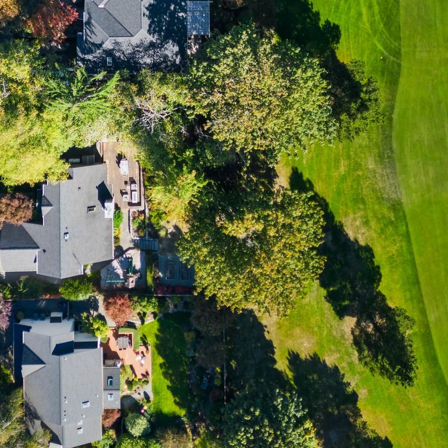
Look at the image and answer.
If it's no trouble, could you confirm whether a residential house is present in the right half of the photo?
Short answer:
No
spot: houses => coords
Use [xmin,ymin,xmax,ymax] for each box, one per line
[76,0,188,74]
[13,307,121,448]
[0,160,116,275]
